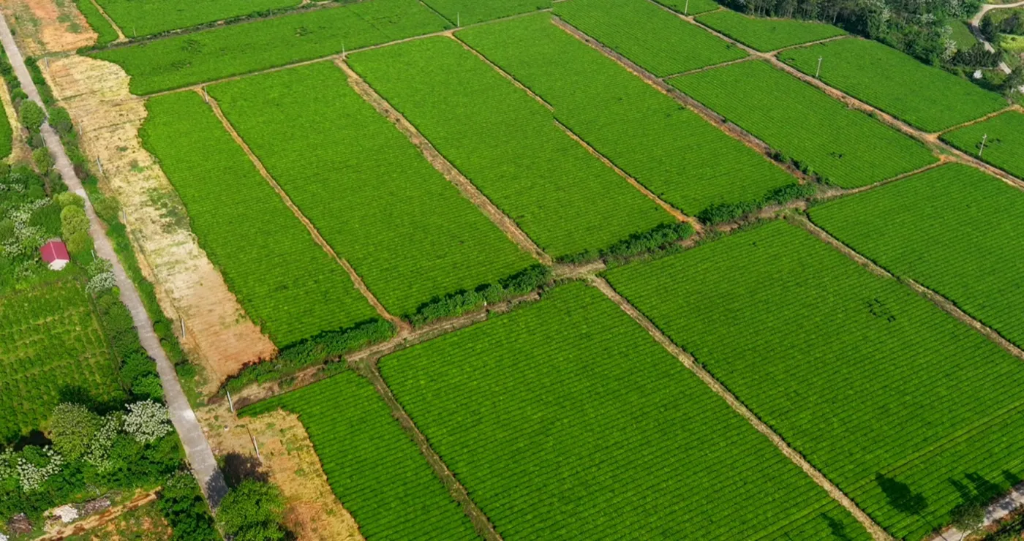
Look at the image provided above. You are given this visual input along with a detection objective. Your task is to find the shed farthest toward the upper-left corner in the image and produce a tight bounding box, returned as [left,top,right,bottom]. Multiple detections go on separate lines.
[39,240,70,272]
